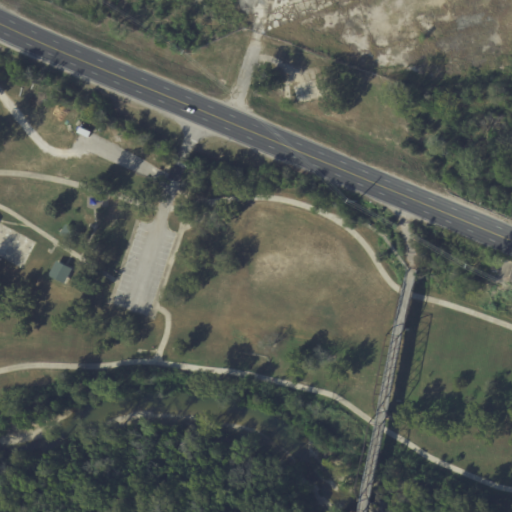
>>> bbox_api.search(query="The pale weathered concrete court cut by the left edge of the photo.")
[0,220,36,280]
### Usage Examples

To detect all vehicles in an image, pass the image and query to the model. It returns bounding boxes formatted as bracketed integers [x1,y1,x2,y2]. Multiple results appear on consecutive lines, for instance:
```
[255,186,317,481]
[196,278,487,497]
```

[186,106,196,113]
[76,126,92,136]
